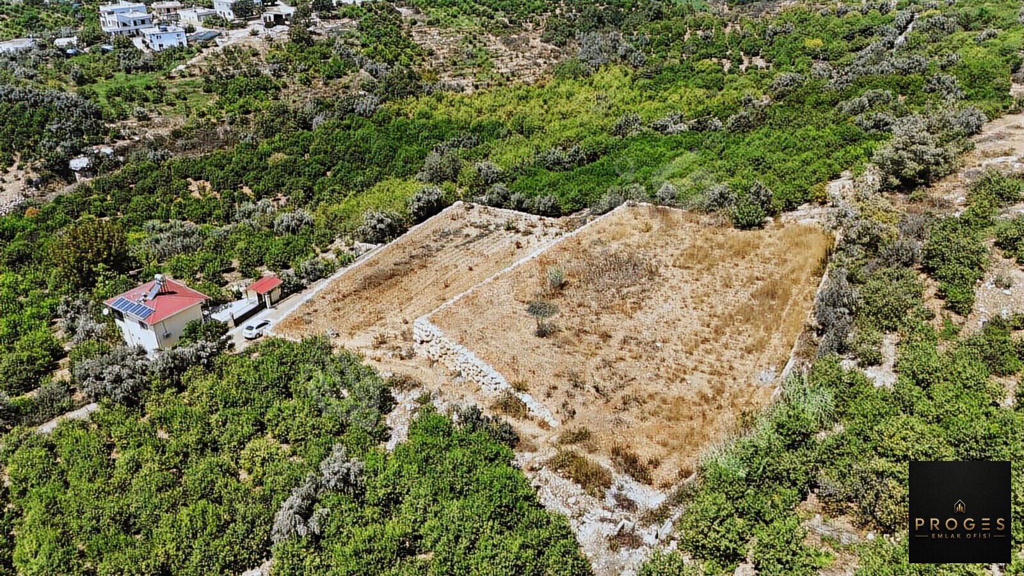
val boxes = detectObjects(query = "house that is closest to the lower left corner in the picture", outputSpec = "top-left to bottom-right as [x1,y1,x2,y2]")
[105,278,207,369]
